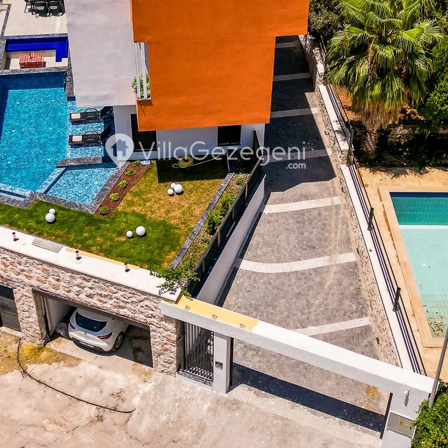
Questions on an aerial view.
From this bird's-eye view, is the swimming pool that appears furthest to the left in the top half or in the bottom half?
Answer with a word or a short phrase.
top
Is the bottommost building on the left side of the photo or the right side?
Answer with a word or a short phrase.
left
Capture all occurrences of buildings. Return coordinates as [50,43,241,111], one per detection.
[30,232,198,375]
[63,0,309,165]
